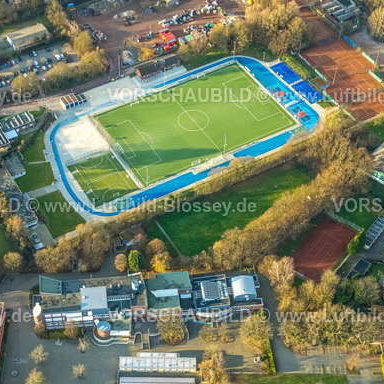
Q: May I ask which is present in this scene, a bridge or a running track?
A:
running track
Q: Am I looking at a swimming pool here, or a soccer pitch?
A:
soccer pitch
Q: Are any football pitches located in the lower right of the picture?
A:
No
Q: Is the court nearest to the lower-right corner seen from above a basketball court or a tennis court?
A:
tennis court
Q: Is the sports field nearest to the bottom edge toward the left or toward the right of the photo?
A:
left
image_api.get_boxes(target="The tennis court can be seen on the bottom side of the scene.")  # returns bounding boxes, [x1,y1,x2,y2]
[293,213,359,282]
